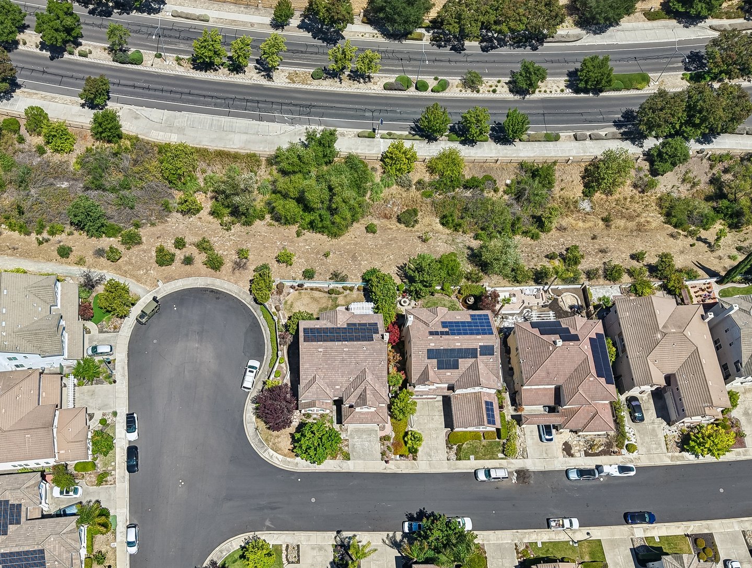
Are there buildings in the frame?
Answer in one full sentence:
Yes, there's a building down there.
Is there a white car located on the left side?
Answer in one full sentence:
Yes, a white car can be seen on the left side.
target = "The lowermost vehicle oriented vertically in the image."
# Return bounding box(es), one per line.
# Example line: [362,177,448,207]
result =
[124,522,140,555]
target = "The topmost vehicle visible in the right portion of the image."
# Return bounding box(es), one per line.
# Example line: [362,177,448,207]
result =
[625,395,645,424]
